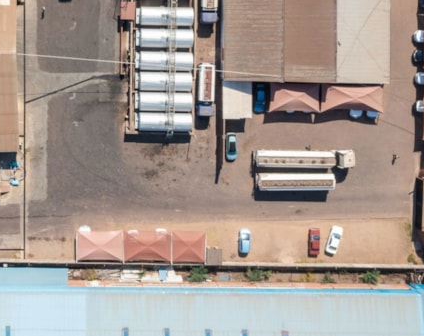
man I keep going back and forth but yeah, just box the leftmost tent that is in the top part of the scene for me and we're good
[267,83,321,113]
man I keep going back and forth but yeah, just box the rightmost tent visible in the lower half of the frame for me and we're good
[171,228,206,263]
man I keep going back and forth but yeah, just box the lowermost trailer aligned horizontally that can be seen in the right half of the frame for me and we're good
[257,172,340,190]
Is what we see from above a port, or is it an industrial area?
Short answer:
industrial area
